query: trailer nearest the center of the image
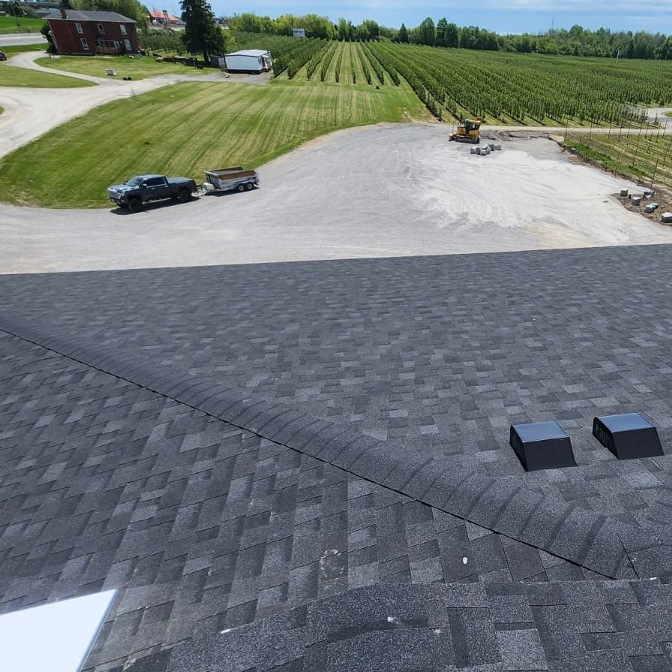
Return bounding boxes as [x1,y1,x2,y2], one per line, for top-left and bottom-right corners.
[196,165,260,192]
